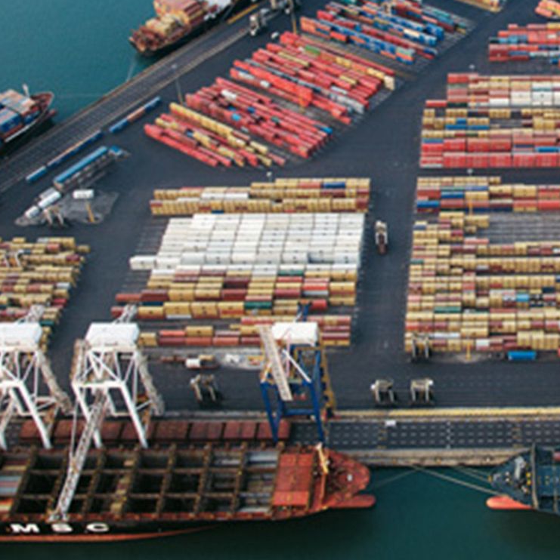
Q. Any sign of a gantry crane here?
Yes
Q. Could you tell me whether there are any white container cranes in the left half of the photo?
Yes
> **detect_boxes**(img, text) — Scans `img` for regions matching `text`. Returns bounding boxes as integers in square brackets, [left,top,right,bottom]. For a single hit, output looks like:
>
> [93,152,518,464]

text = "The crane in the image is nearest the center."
[251,300,345,446]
